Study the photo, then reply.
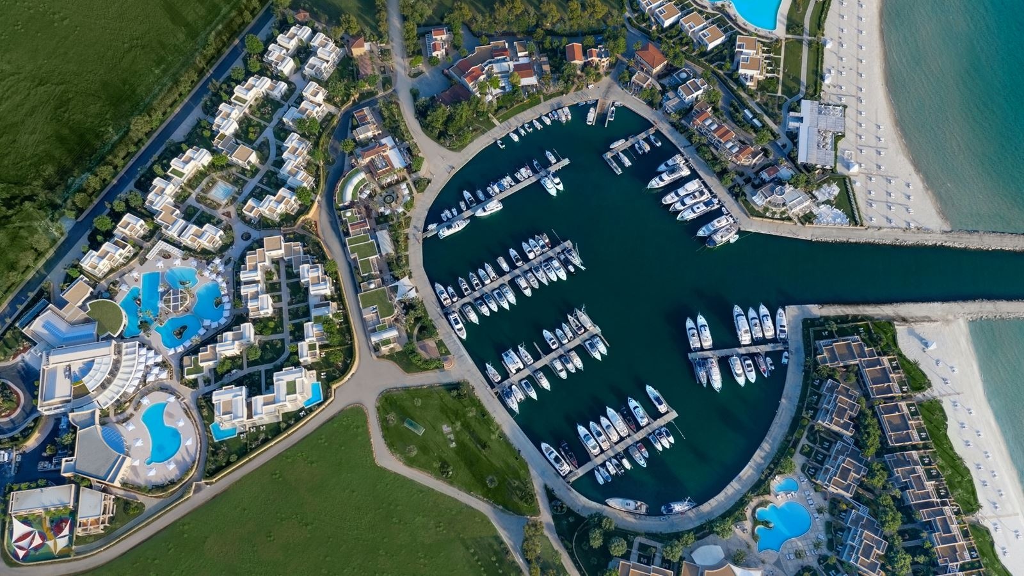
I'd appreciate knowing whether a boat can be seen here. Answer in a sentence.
Yes, a boat is visible in the scene.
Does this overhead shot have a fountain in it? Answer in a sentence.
Yes, a fountain can be made out from above.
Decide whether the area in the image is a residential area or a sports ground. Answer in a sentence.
This image shows a residential area.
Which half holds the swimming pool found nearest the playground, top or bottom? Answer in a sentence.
Seen from above, the swimming pool found nearest the playground lies in the bottom half of the view.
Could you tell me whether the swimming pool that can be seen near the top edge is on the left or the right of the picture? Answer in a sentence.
The swimming pool that can be seen near the top edge sits on the right side.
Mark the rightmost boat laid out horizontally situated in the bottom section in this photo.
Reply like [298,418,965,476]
[661,499,697,515]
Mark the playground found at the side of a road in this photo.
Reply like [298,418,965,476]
[9,511,75,561]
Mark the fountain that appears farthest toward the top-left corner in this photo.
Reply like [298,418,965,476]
[208,179,237,203]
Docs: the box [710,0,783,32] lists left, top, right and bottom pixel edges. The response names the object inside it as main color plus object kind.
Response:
blue swimming pool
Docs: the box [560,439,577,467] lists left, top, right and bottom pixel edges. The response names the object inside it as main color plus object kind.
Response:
black boat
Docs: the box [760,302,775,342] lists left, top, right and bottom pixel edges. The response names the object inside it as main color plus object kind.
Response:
white boat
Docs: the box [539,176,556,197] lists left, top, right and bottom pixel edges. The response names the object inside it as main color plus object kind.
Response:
white boat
